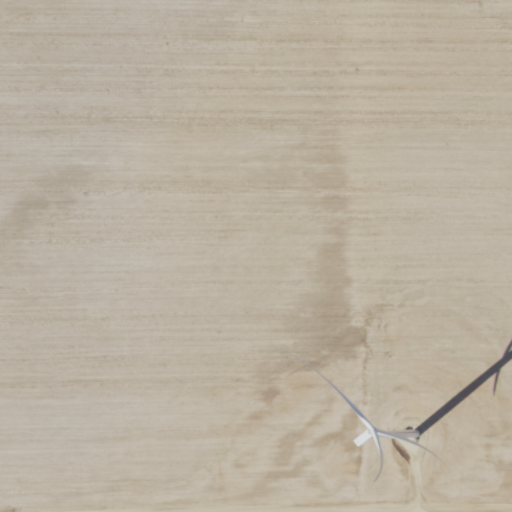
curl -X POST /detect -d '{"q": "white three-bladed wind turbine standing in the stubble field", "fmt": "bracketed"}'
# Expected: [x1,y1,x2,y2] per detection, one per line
[318,371,440,480]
